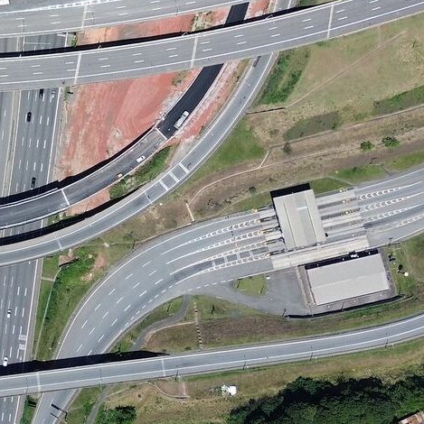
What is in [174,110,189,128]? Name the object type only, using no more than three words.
vehicle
